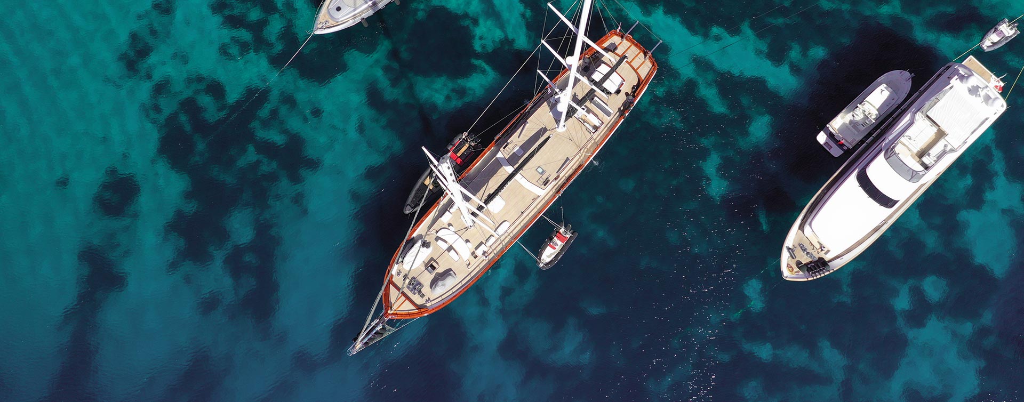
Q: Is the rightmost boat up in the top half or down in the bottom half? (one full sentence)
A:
You can find the rightmost boat in the top half.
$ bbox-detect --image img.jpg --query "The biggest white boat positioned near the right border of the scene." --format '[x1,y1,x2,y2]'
[779,56,1012,285]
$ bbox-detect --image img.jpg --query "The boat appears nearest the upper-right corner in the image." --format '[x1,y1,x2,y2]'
[976,17,1021,52]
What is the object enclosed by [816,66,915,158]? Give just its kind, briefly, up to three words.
boat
